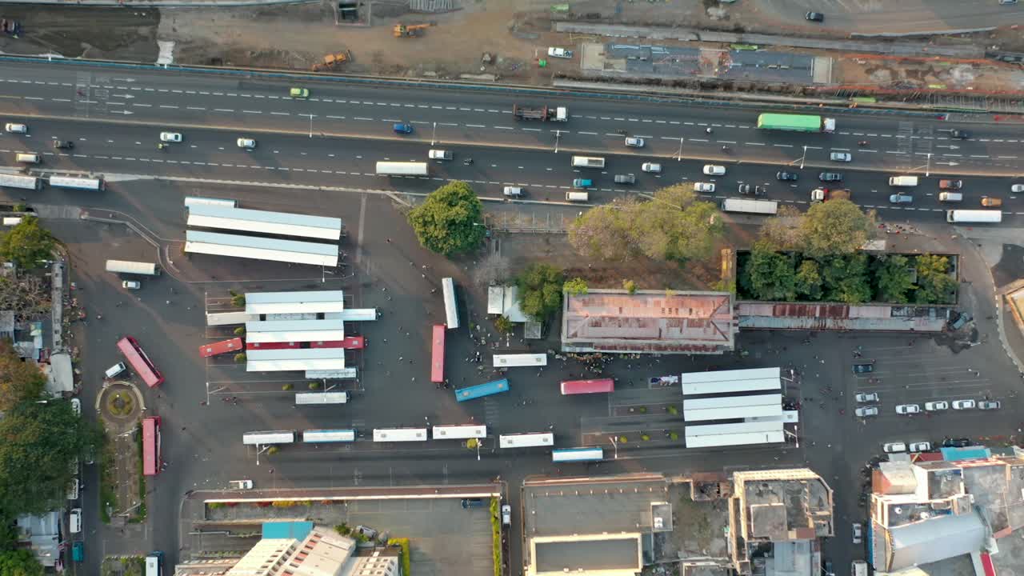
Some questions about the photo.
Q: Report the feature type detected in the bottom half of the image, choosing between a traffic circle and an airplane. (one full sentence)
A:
What appears in the bottom half of the image is a traffic circle.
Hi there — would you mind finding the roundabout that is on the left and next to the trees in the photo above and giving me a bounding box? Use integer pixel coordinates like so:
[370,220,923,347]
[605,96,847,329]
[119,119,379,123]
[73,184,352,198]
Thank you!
[95,376,146,429]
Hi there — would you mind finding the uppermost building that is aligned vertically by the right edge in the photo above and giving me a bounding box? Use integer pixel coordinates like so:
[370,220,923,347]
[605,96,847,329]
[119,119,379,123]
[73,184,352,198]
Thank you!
[996,279,1024,342]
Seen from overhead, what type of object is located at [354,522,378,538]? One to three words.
car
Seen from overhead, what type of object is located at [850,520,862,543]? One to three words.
vehicle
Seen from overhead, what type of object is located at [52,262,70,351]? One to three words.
building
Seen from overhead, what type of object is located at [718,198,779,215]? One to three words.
vehicle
